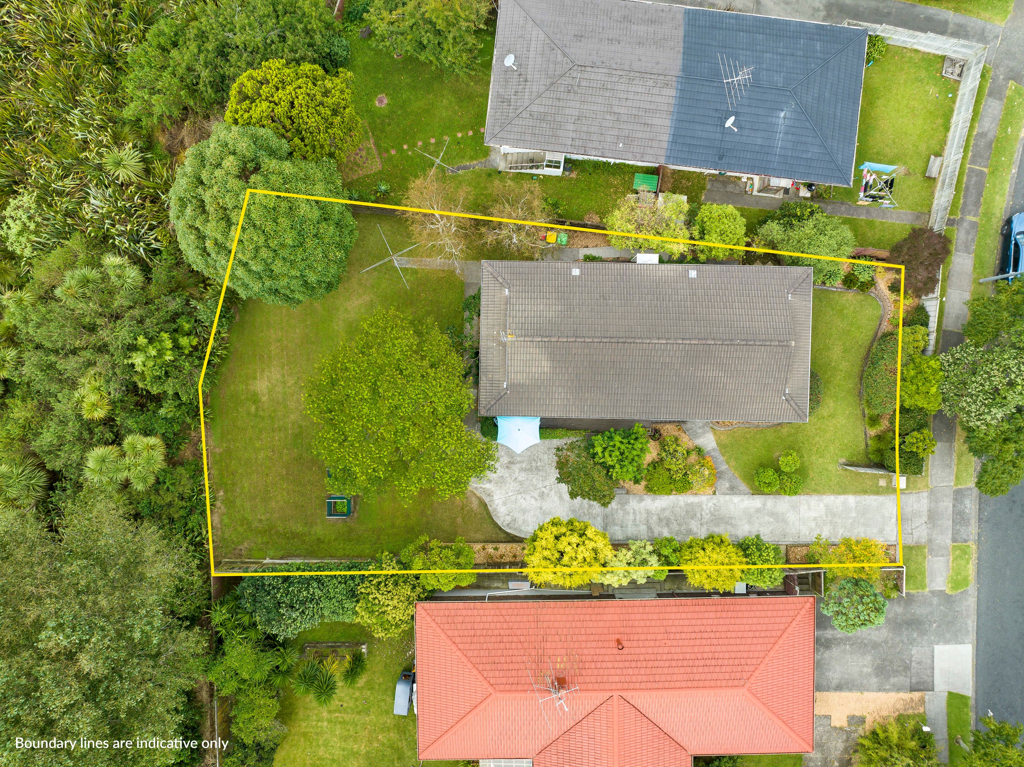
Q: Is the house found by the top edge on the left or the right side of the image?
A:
right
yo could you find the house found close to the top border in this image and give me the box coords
[481,0,871,192]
